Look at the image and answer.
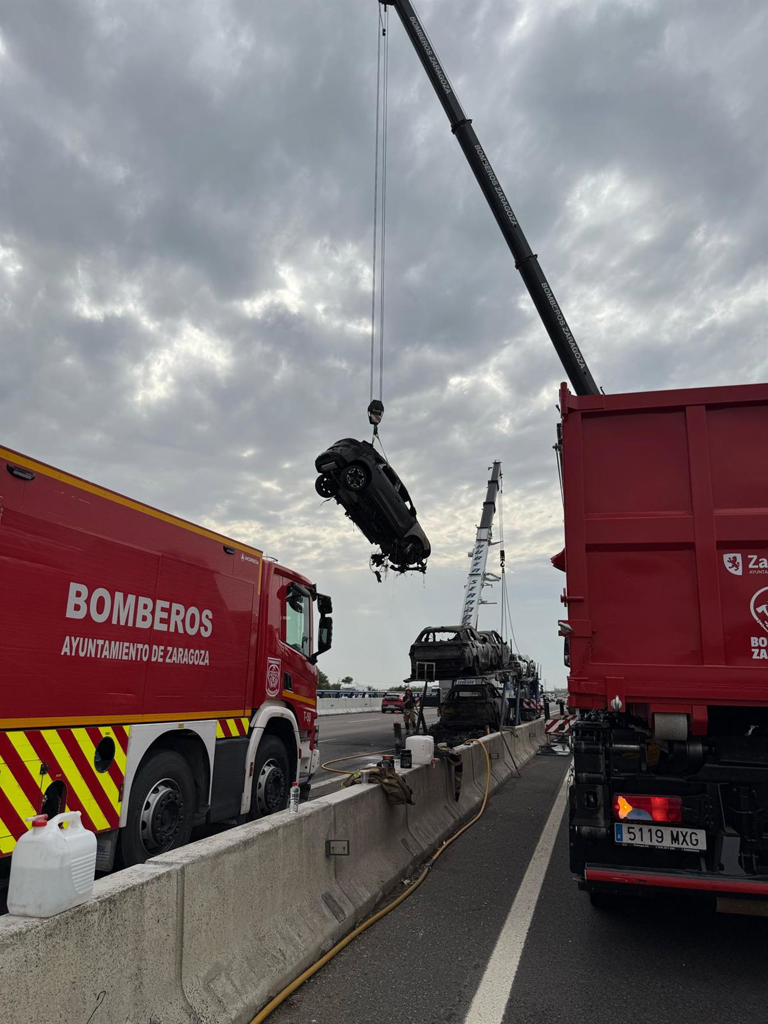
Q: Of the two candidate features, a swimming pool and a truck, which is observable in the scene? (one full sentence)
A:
I can see a truck in this picture.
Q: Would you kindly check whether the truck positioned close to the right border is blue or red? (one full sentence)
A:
The truck positioned close to the right border looks red in the image.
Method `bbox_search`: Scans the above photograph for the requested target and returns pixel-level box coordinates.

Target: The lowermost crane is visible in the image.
[414,451,539,722]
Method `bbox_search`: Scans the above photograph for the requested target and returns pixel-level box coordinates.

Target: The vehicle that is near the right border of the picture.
[555,379,768,909]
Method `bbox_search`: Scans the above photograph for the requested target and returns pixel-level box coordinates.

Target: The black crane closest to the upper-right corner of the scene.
[365,0,600,469]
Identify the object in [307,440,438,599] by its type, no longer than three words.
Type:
car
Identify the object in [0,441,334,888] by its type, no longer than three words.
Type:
truck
